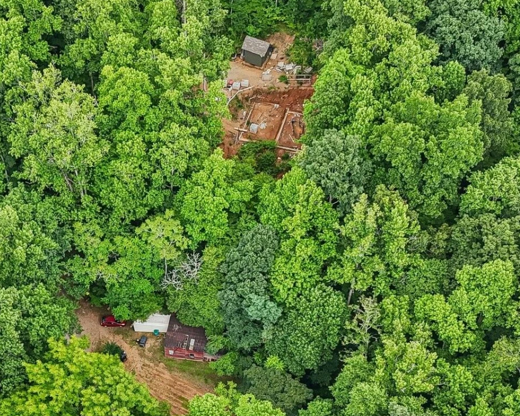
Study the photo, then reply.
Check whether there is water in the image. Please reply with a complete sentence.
No, the picture contains no water.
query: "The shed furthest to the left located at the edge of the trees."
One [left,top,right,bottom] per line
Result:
[132,309,167,332]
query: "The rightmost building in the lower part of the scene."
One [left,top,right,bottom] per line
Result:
[163,313,208,359]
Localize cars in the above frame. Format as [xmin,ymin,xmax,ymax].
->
[100,314,125,326]
[113,342,126,363]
